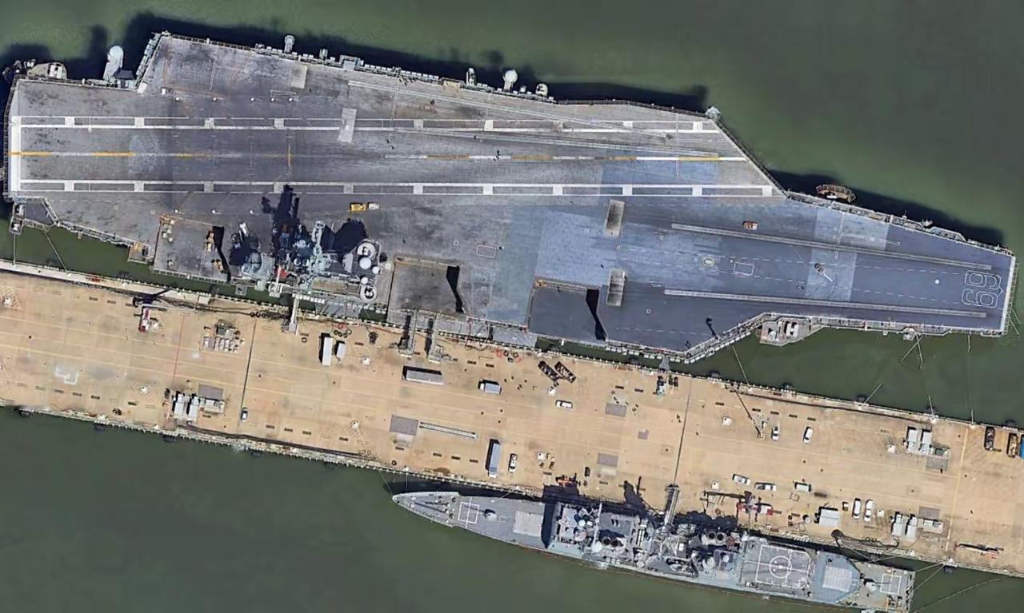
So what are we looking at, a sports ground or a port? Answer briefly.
port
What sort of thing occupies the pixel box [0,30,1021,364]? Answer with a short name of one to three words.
ship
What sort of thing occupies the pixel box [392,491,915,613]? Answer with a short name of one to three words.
vessel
